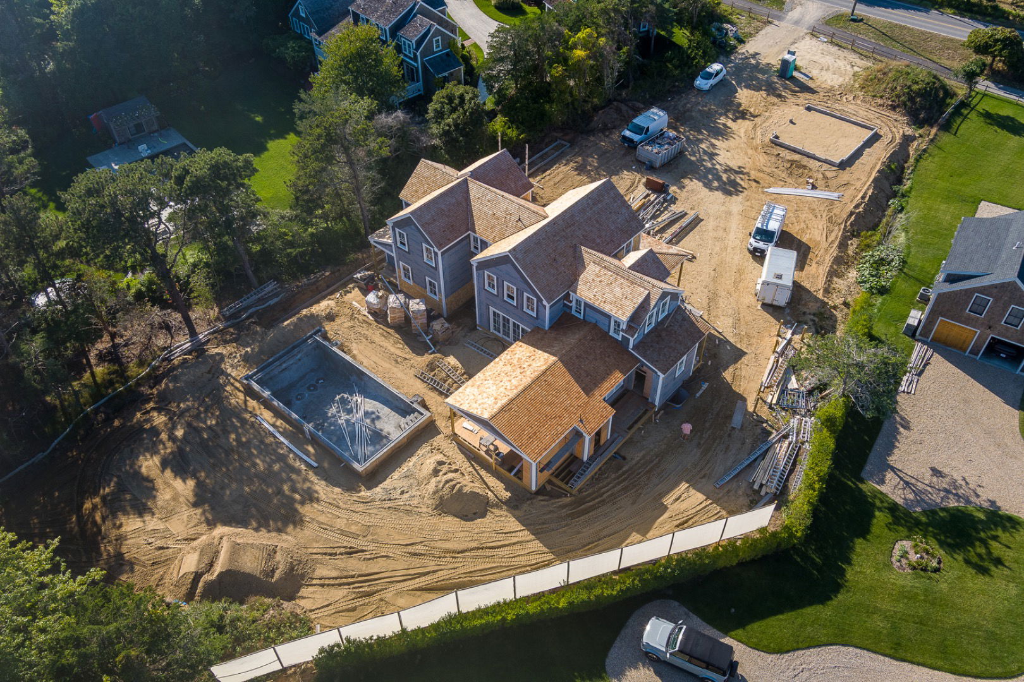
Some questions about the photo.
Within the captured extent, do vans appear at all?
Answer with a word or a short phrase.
Yes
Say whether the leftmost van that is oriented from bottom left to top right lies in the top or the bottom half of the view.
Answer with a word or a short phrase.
top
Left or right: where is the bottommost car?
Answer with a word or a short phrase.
right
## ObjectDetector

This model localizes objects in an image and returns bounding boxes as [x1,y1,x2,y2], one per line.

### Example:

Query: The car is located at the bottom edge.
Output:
[636,610,740,682]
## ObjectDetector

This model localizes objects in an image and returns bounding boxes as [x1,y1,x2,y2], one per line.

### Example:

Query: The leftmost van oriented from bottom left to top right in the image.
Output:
[621,96,674,144]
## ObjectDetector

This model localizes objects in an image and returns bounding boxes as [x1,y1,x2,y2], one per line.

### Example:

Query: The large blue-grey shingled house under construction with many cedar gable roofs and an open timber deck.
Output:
[369,150,720,492]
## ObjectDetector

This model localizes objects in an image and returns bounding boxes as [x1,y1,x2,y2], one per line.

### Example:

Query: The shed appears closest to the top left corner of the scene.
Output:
[98,95,160,143]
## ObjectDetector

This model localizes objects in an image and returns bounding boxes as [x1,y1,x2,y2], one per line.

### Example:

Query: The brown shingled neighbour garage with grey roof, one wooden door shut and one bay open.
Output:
[916,215,1024,376]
